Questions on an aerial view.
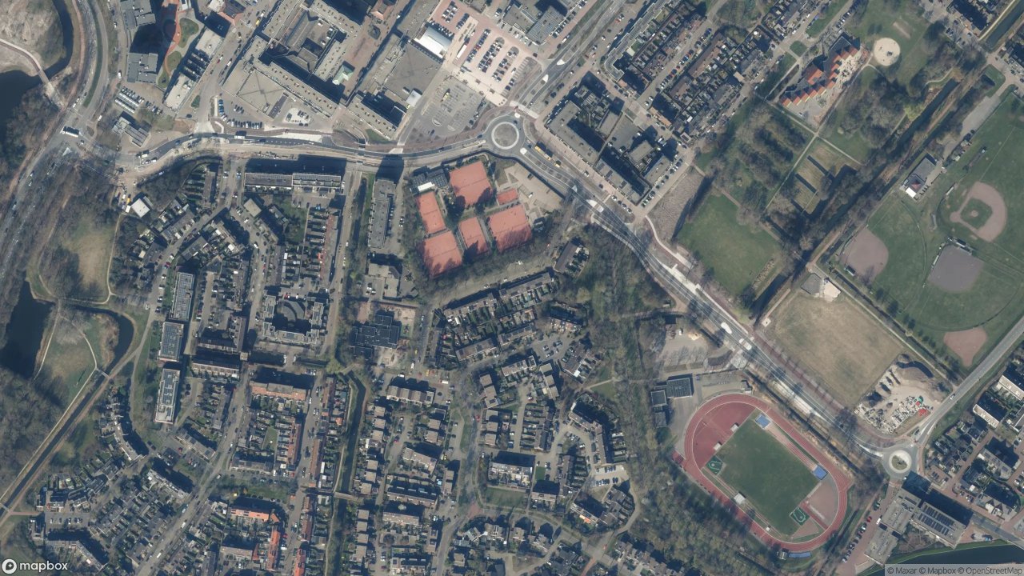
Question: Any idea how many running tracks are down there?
one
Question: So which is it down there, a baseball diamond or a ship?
baseball diamond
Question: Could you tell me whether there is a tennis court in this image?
Yes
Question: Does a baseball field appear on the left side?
No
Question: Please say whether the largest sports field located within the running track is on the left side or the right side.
right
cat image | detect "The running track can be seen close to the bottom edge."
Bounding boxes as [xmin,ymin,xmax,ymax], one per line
[679,388,850,556]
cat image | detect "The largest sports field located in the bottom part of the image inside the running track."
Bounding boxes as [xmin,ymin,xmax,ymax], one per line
[720,421,826,533]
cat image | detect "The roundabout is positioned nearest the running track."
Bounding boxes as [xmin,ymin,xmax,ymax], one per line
[880,442,920,482]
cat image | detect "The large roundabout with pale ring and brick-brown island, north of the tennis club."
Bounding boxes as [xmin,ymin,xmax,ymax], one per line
[483,113,525,155]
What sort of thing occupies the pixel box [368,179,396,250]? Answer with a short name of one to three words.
building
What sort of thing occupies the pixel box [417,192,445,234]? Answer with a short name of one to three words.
tennis court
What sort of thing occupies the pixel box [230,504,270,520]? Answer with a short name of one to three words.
house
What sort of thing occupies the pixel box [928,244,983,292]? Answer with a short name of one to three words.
baseball field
